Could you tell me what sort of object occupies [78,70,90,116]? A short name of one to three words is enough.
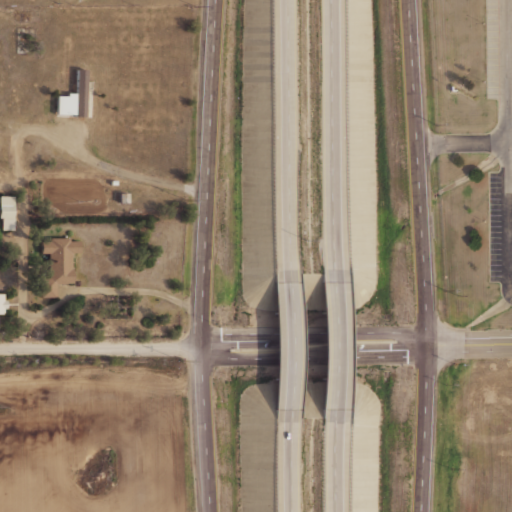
barn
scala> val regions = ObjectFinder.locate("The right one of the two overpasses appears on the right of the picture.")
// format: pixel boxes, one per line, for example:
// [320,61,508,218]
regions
[324,262,356,428]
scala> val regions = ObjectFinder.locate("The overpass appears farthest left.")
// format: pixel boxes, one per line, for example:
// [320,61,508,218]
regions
[277,262,308,428]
